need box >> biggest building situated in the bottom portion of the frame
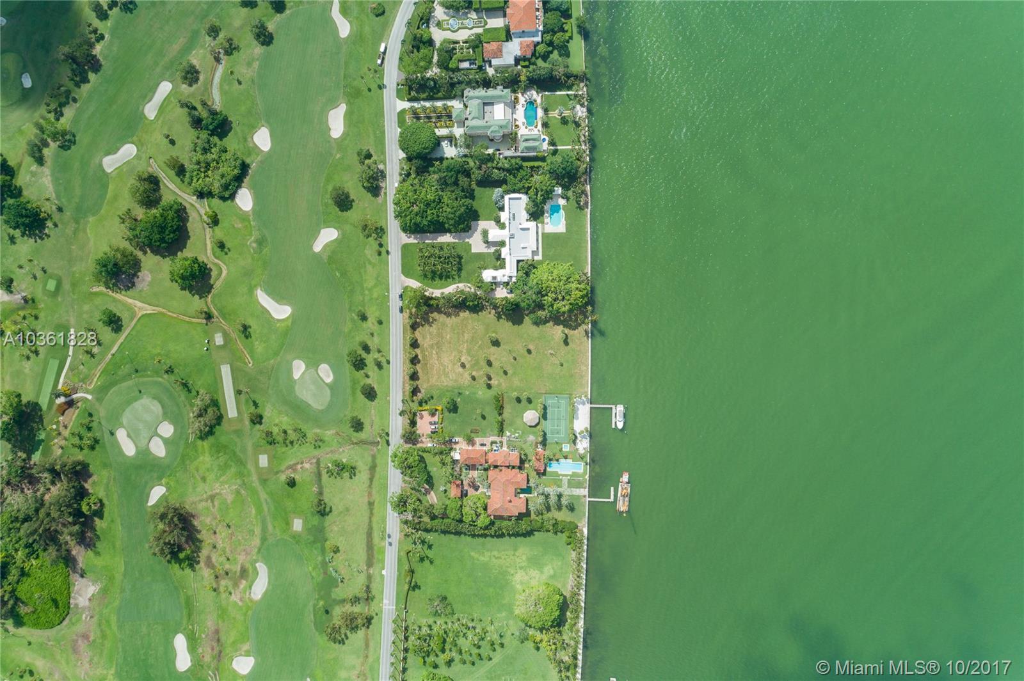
[488,468,527,516]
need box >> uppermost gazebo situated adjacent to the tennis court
[524,410,539,425]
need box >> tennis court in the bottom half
[543,395,569,443]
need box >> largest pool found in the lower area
[548,459,582,474]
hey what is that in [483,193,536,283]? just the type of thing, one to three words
house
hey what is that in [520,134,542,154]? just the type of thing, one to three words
building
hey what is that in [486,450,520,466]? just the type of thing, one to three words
house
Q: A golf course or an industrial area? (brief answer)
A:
golf course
